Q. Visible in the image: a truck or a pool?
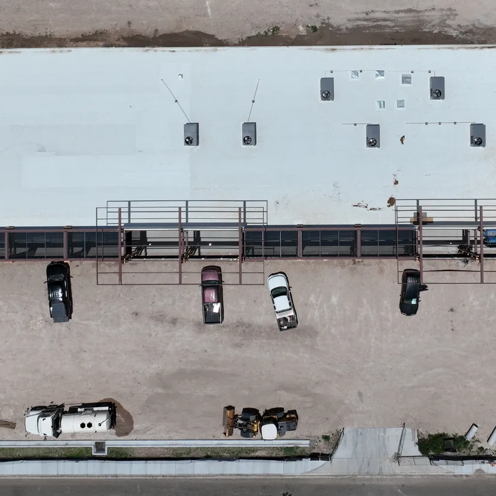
truck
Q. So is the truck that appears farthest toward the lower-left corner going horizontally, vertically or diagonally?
horizontally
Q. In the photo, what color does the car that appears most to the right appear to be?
black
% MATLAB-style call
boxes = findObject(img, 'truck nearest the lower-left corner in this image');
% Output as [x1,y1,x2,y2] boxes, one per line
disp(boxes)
[25,404,118,439]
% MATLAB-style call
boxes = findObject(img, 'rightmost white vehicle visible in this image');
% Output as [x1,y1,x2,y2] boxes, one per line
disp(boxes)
[266,269,299,334]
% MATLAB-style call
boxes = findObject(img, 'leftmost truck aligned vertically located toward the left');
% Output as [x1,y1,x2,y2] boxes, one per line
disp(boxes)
[43,261,73,323]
